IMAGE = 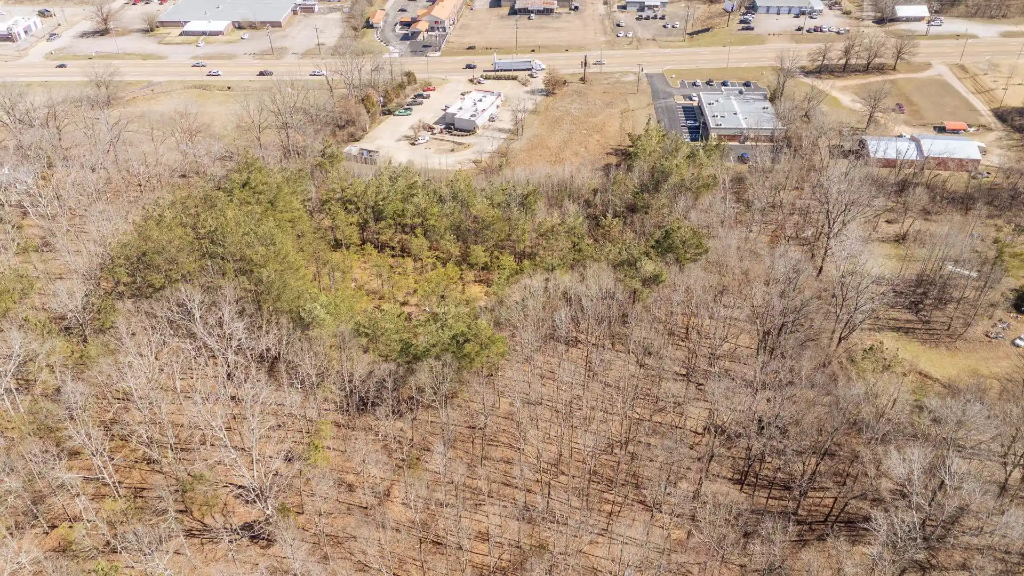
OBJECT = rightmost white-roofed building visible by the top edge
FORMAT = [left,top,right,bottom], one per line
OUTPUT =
[884,2,933,22]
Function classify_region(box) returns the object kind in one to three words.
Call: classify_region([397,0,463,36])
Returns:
building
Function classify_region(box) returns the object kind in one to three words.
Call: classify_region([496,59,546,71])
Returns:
vehicle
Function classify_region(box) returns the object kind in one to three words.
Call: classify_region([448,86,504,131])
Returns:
building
